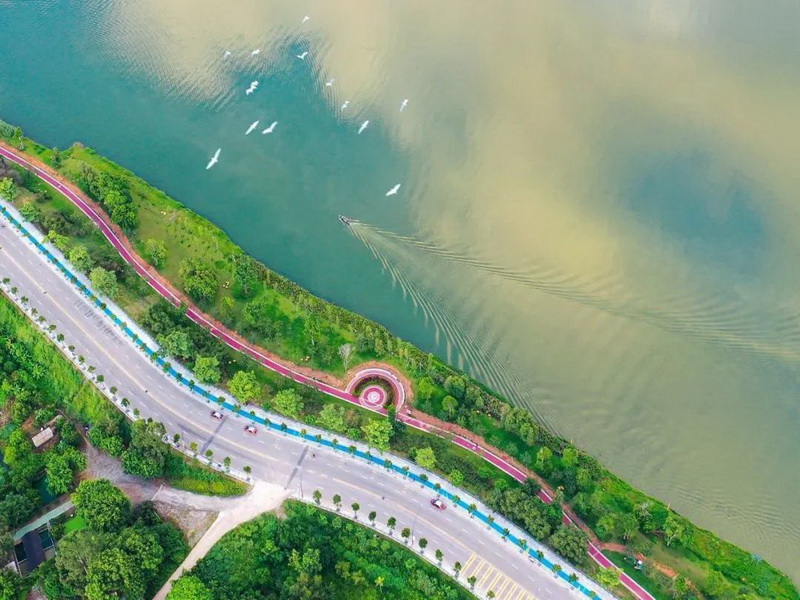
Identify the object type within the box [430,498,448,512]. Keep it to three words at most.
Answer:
car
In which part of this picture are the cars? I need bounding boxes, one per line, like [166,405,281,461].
[209,409,224,420]
[242,425,258,435]
[430,498,448,512]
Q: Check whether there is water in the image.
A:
Yes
